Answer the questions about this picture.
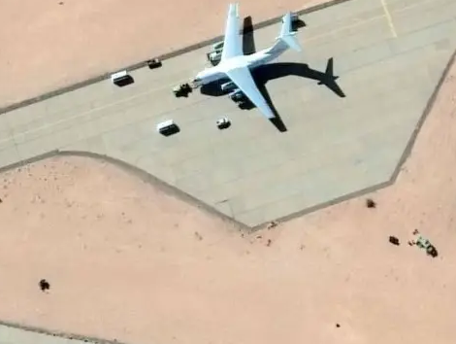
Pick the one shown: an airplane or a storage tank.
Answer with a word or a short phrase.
airplane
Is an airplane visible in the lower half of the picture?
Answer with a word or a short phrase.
No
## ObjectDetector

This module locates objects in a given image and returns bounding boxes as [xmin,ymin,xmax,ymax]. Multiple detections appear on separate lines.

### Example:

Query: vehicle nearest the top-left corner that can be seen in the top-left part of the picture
[112,71,130,85]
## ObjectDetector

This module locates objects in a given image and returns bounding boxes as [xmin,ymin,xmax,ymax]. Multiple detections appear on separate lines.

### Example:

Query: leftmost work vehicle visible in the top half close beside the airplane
[175,84,198,96]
